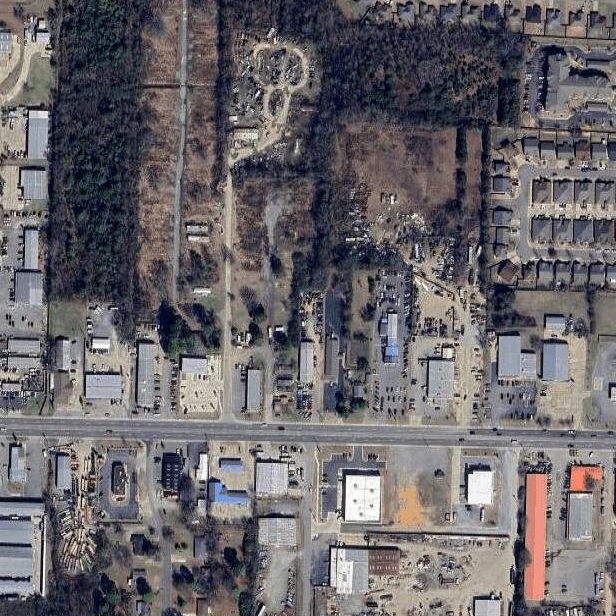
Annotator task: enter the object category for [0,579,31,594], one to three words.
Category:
building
